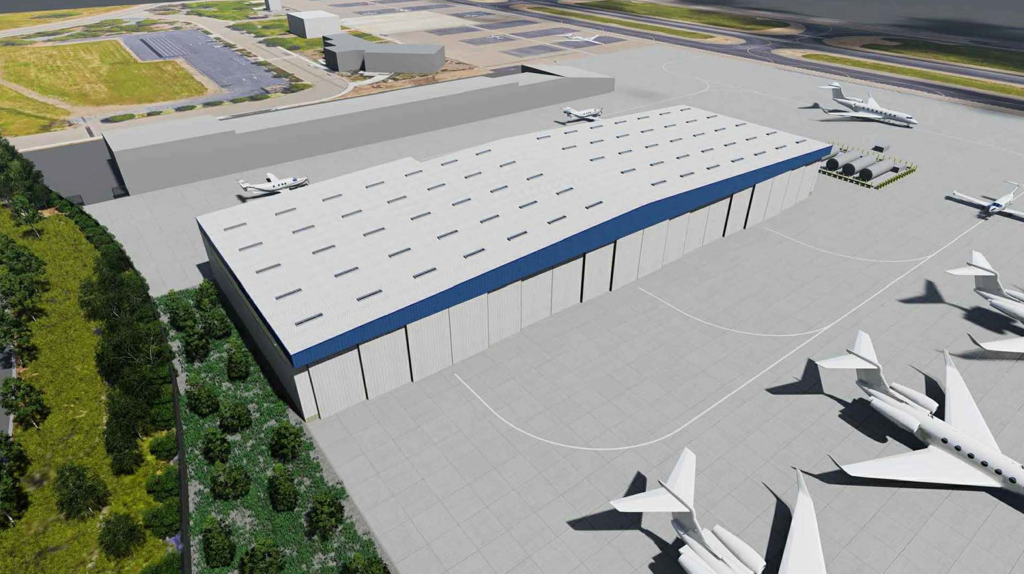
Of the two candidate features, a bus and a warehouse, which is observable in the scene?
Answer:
warehouse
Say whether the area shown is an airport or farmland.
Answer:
airport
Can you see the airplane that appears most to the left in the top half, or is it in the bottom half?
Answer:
top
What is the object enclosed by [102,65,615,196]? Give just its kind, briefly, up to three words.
warehouse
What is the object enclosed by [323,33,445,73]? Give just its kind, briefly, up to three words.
building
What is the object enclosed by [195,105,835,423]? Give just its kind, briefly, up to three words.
hangar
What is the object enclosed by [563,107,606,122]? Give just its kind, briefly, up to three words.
airplane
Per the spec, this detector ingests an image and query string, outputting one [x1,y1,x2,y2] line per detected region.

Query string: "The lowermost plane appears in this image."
[609,451,828,574]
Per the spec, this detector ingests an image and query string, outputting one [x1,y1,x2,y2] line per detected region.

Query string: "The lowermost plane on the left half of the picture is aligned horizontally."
[238,172,309,192]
